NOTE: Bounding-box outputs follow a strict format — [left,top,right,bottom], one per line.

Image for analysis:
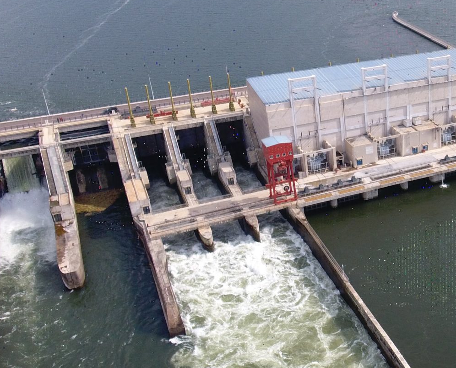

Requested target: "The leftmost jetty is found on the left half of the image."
[40,133,85,289]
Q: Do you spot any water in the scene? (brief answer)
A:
Yes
